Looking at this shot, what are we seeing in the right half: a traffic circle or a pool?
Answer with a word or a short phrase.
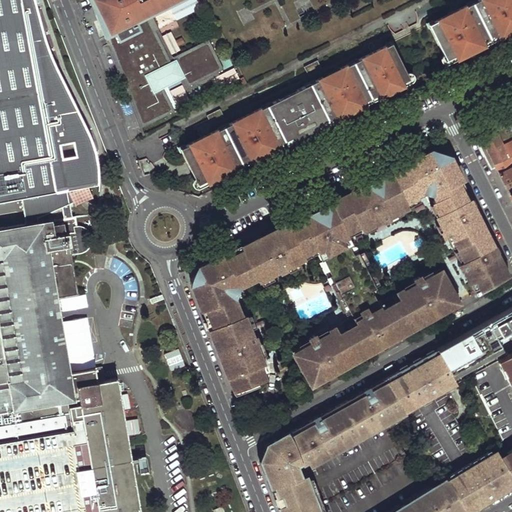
pool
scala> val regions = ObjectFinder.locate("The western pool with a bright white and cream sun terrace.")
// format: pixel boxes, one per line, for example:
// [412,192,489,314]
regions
[286,283,332,318]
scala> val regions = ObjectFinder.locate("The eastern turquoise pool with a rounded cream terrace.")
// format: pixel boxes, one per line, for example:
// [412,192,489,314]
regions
[376,228,418,267]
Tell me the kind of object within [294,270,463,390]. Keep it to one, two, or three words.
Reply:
building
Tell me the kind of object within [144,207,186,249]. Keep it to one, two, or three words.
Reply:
roundabout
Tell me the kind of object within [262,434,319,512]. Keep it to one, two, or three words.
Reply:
building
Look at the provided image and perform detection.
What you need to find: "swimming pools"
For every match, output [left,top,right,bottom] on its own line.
[286,283,332,318]
[376,228,418,267]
